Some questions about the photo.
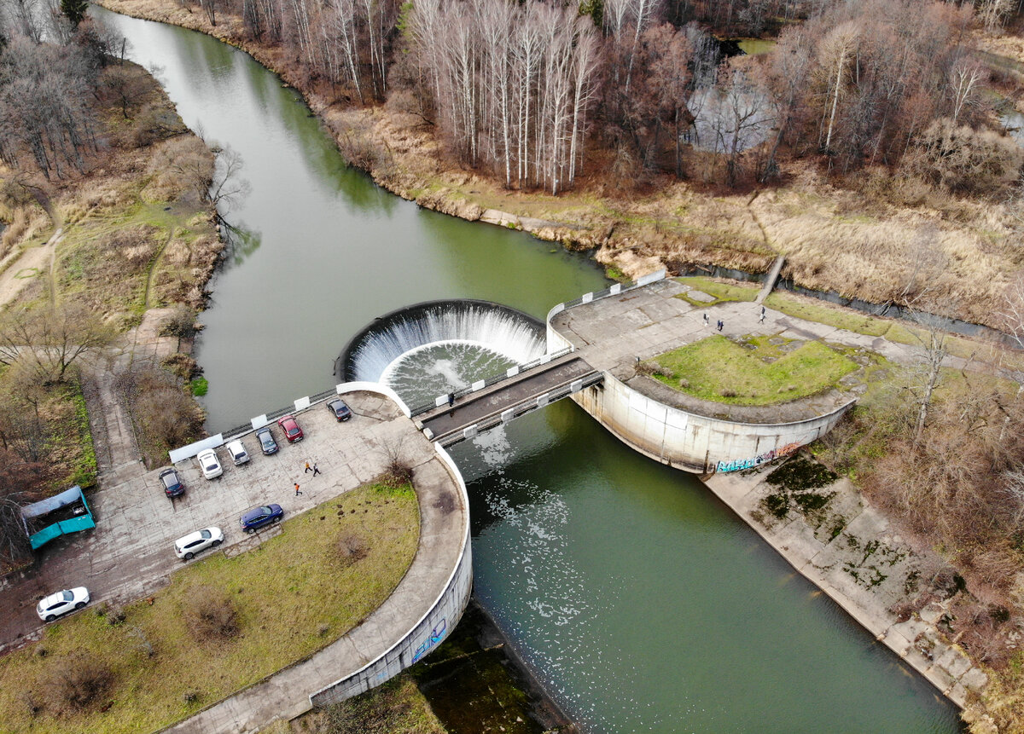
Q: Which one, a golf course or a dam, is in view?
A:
dam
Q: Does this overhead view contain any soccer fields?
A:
No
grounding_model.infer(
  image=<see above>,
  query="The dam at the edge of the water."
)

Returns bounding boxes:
[337,299,551,416]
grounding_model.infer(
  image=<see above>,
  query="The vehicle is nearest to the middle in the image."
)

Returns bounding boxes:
[325,396,353,418]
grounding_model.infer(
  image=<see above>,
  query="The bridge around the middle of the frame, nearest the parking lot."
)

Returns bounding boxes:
[401,350,605,452]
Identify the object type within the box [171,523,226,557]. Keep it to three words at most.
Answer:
car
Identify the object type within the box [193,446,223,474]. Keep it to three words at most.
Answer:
car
